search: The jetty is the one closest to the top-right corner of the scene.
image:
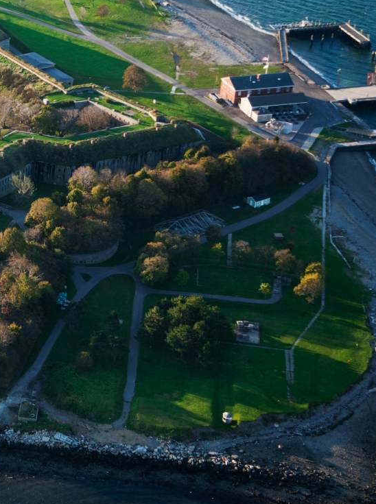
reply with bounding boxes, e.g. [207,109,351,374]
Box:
[339,17,372,51]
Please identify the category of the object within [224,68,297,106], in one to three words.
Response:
house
